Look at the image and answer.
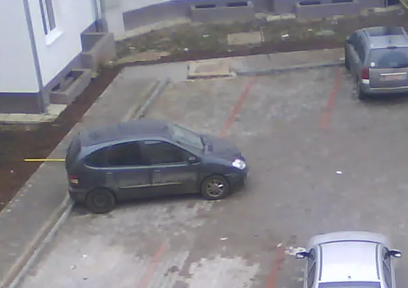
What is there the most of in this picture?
paved ground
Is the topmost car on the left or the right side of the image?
right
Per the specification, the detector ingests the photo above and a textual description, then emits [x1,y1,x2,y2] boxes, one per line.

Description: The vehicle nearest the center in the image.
[70,125,240,213]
